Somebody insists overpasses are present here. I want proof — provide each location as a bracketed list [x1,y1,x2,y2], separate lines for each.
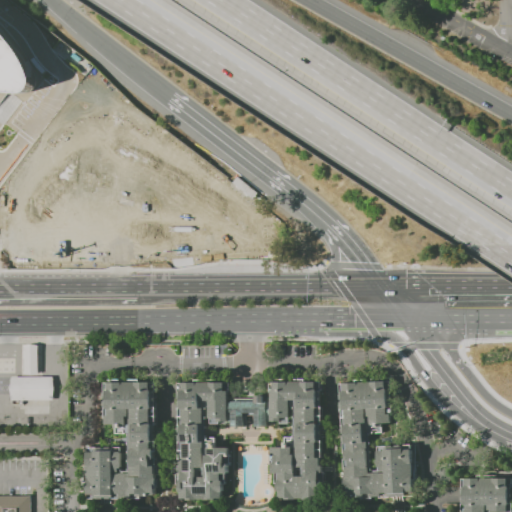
[453,162,512,280]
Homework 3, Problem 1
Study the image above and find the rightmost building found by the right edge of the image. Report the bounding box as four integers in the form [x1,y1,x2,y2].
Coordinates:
[458,474,506,512]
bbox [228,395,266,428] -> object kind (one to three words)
building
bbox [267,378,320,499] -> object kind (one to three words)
building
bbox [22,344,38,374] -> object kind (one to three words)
shed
